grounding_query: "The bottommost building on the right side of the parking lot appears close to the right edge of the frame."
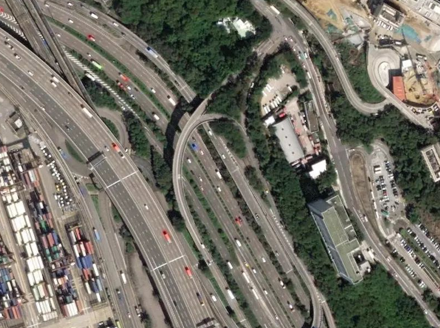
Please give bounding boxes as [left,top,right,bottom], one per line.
[420,144,440,182]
